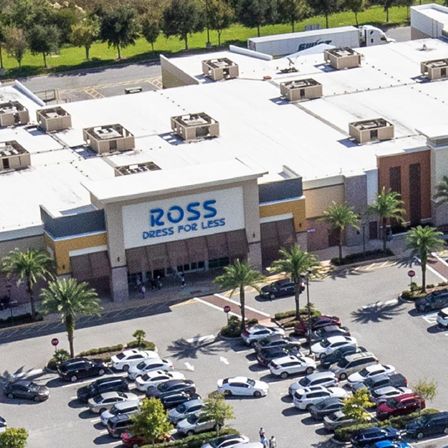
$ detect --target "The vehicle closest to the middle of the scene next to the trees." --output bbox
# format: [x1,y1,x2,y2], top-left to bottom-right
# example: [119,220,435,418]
[261,281,306,299]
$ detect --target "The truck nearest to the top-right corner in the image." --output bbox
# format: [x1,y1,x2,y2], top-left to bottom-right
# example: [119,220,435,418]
[350,21,399,49]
